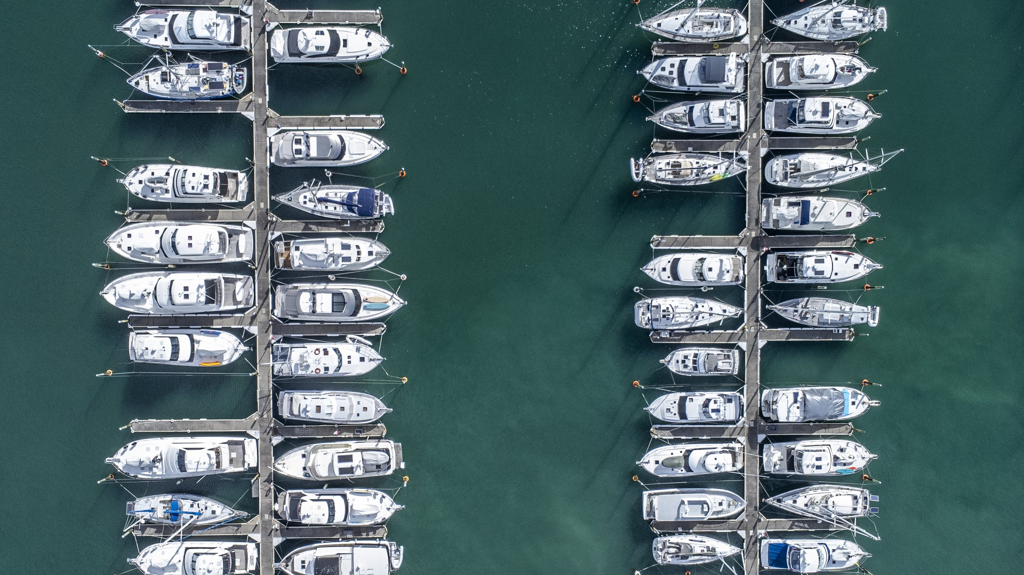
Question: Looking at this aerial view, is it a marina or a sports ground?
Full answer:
This image shows a marina.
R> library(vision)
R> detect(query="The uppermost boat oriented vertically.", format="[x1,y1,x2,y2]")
[876,7,890,34]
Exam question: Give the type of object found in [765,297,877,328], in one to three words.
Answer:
boat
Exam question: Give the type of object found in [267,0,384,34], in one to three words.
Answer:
pier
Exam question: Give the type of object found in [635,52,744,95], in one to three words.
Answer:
boat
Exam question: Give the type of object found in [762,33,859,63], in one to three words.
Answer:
pier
